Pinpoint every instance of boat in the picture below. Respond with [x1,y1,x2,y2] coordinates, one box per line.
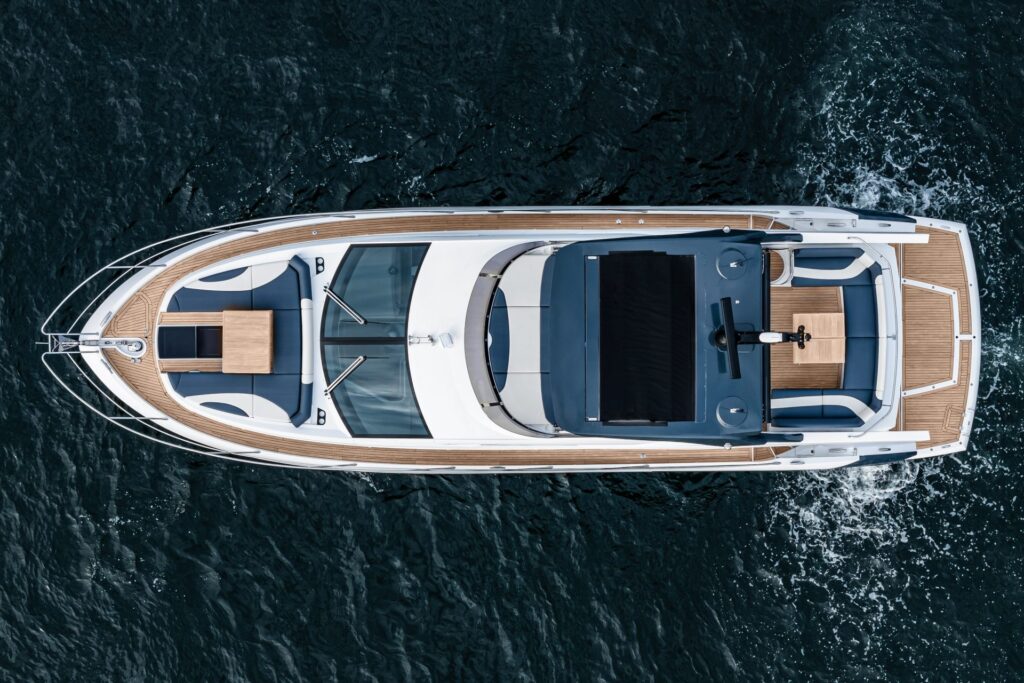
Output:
[36,205,980,476]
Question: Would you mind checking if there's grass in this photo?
No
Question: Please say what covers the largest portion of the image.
water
